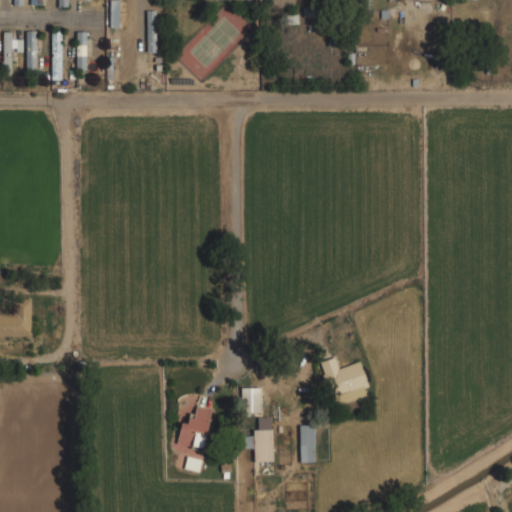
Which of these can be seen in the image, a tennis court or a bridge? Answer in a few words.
tennis court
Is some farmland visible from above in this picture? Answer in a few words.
Yes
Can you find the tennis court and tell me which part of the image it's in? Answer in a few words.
top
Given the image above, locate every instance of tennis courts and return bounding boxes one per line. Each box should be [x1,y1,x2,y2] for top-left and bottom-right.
[179,6,254,82]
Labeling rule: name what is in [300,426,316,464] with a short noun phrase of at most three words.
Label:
barn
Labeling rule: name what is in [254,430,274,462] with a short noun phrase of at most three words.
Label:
barn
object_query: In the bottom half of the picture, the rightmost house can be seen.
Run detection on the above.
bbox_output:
[320,357,371,404]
